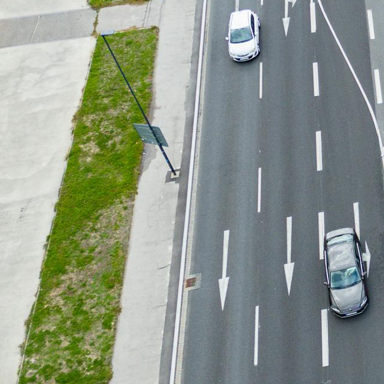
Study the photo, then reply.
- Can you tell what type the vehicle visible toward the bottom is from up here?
car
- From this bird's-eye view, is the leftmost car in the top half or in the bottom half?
top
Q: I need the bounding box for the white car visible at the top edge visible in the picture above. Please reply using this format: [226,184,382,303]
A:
[221,6,260,61]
